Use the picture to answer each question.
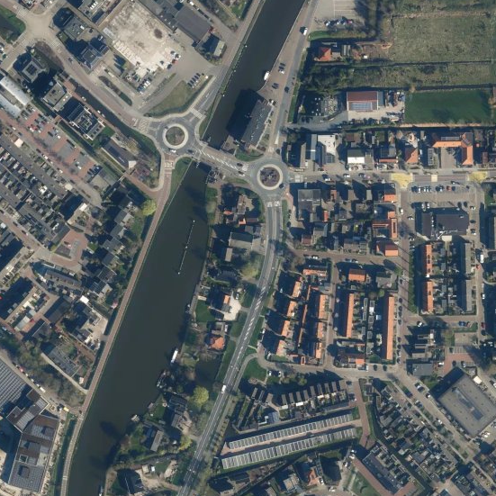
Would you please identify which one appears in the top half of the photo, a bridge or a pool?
bridge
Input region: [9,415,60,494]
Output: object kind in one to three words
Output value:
building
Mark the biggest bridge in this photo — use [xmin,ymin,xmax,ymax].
[183,135,220,168]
